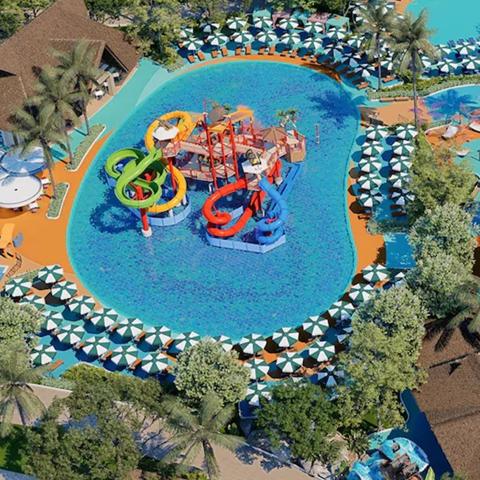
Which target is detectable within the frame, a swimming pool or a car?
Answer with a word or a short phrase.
swimming pool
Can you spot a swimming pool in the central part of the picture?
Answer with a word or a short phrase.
Yes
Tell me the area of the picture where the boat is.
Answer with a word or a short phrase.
bottom right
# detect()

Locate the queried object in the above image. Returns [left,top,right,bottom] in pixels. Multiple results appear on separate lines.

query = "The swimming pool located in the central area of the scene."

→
[72,62,357,337]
